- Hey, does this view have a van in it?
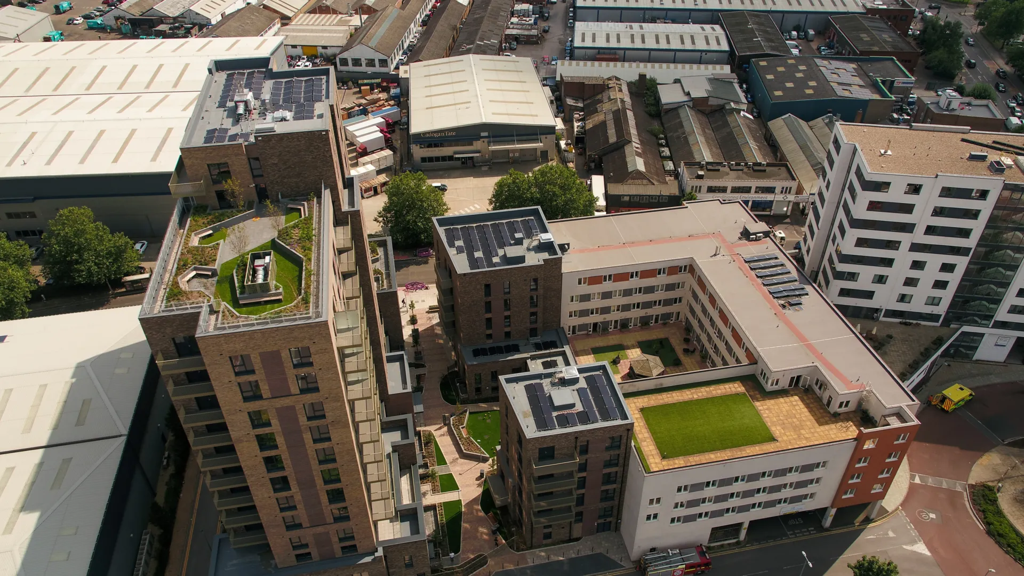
Yes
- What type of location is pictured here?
industrial area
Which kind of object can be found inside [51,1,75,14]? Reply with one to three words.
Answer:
vehicle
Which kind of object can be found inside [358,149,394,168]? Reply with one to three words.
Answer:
vehicle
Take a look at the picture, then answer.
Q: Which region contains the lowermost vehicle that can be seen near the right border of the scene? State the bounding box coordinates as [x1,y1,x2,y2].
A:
[928,383,977,414]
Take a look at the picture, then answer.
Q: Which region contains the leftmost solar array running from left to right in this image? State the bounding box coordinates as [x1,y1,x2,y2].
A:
[201,128,251,142]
